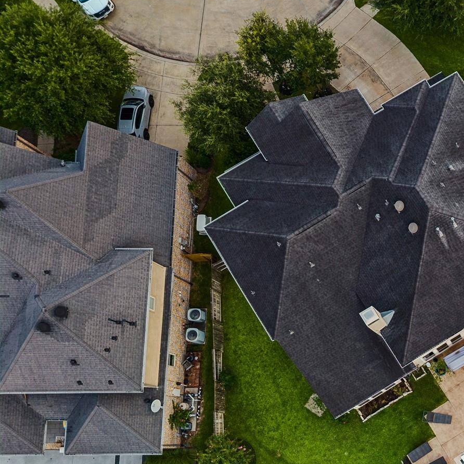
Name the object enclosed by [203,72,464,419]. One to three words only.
house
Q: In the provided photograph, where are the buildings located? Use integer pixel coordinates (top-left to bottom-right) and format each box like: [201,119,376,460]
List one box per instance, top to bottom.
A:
[203,72,464,419]
[0,121,197,457]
